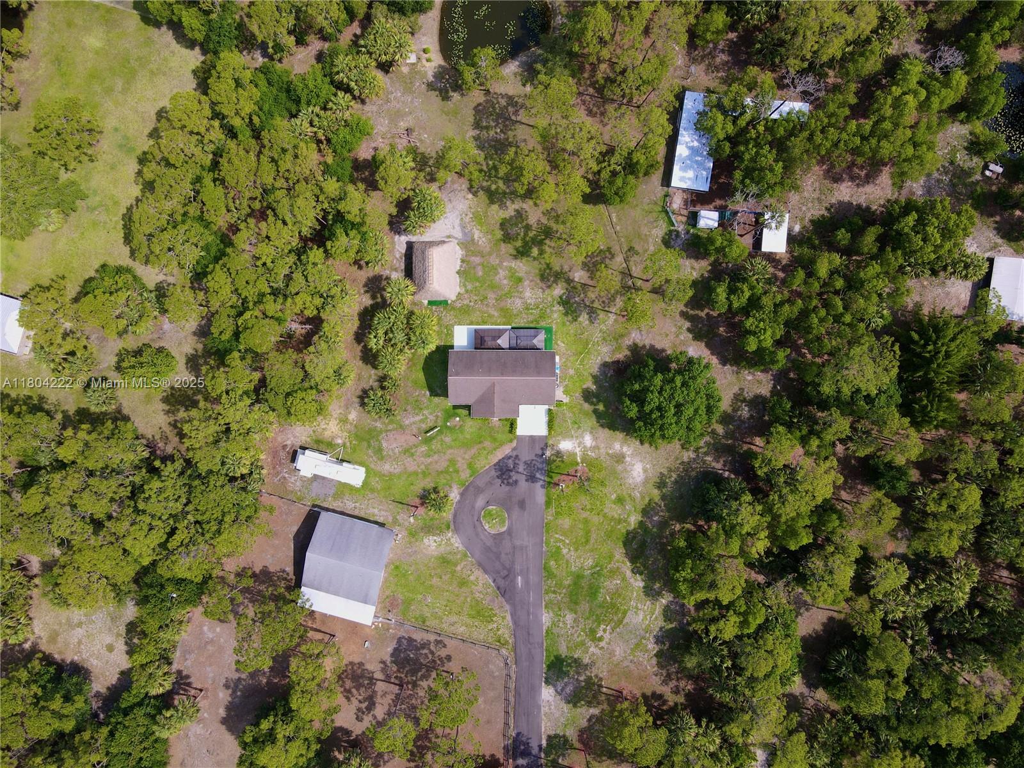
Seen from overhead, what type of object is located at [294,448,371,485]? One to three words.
trailer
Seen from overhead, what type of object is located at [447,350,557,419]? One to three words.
house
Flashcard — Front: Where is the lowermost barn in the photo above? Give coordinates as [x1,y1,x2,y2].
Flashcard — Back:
[299,508,396,625]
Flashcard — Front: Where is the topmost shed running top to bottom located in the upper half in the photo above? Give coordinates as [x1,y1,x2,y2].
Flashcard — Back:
[667,91,721,195]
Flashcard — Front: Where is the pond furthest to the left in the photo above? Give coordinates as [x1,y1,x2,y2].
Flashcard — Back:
[439,0,552,72]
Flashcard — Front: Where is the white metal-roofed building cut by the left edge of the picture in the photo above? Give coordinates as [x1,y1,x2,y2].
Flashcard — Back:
[0,295,34,354]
